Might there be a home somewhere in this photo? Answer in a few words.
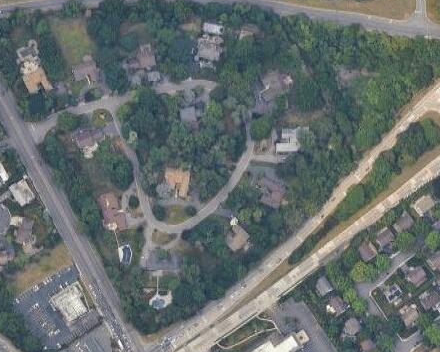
Yes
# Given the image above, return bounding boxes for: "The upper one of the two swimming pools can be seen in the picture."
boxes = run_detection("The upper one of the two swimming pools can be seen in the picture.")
[119,244,133,264]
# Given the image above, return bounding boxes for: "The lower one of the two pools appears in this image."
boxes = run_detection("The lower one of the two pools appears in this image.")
[148,291,173,309]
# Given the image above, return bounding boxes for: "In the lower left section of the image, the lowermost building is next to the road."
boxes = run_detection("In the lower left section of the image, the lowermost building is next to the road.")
[52,283,91,324]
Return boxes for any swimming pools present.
[119,244,133,264]
[148,291,173,309]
